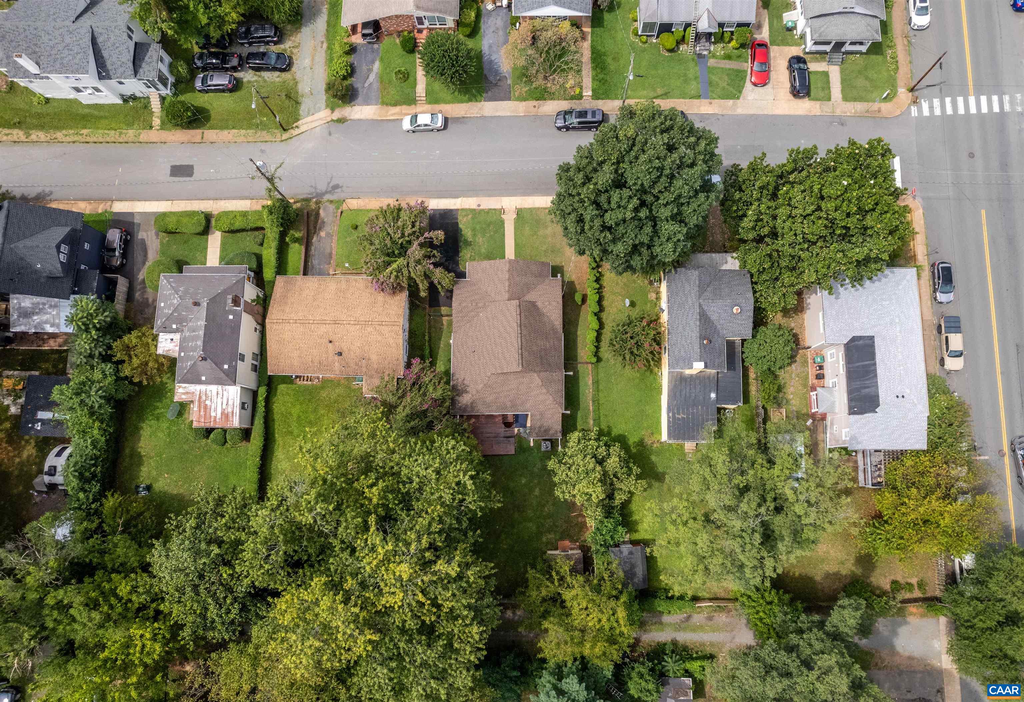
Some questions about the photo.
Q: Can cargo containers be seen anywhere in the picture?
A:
No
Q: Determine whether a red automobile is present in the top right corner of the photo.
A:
Yes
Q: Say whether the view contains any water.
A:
No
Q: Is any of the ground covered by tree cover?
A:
Yes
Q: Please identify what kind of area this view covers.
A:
residential area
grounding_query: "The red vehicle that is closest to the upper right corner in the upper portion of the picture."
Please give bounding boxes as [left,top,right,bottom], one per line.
[748,44,770,89]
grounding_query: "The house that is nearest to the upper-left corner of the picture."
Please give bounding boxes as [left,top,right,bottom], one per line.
[0,0,175,113]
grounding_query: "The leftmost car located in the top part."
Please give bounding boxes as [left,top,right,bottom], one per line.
[101,228,129,271]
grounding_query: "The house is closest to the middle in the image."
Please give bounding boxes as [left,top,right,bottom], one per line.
[449,257,573,454]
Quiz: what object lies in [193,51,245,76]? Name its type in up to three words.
truck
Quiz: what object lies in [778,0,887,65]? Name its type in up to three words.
house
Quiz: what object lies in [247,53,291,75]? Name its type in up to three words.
car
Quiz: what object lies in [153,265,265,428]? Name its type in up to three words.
house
